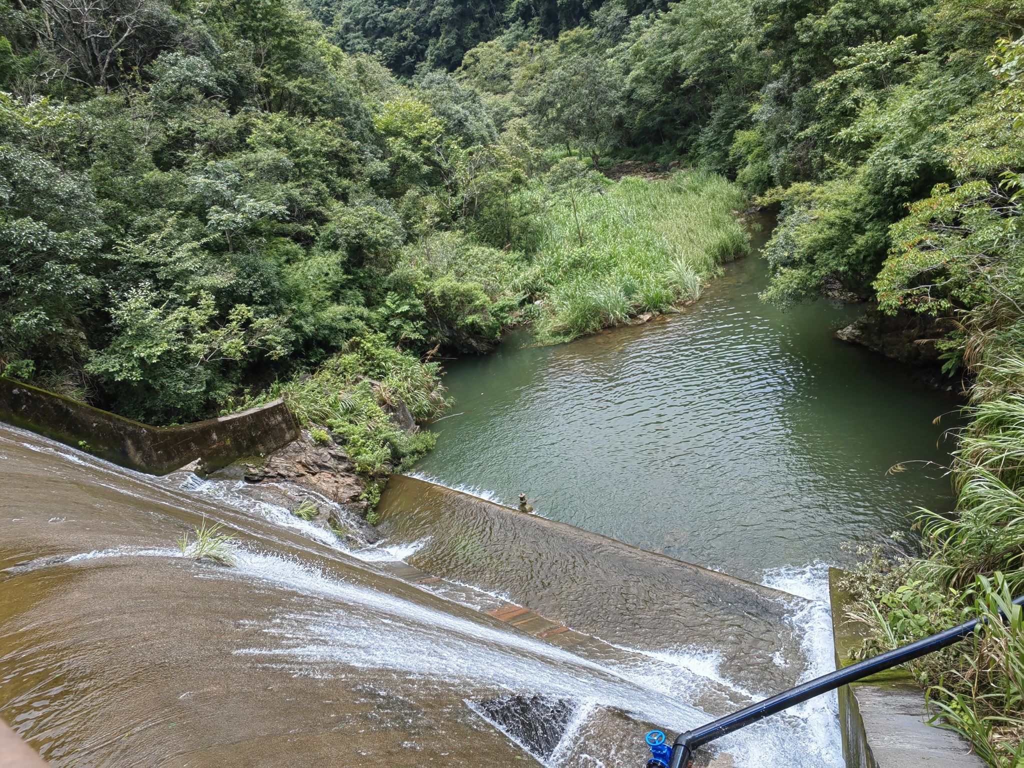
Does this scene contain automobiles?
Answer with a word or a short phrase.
No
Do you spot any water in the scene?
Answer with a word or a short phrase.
Yes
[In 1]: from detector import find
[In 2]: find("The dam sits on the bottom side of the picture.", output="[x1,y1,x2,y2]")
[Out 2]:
[303,529,846,768]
